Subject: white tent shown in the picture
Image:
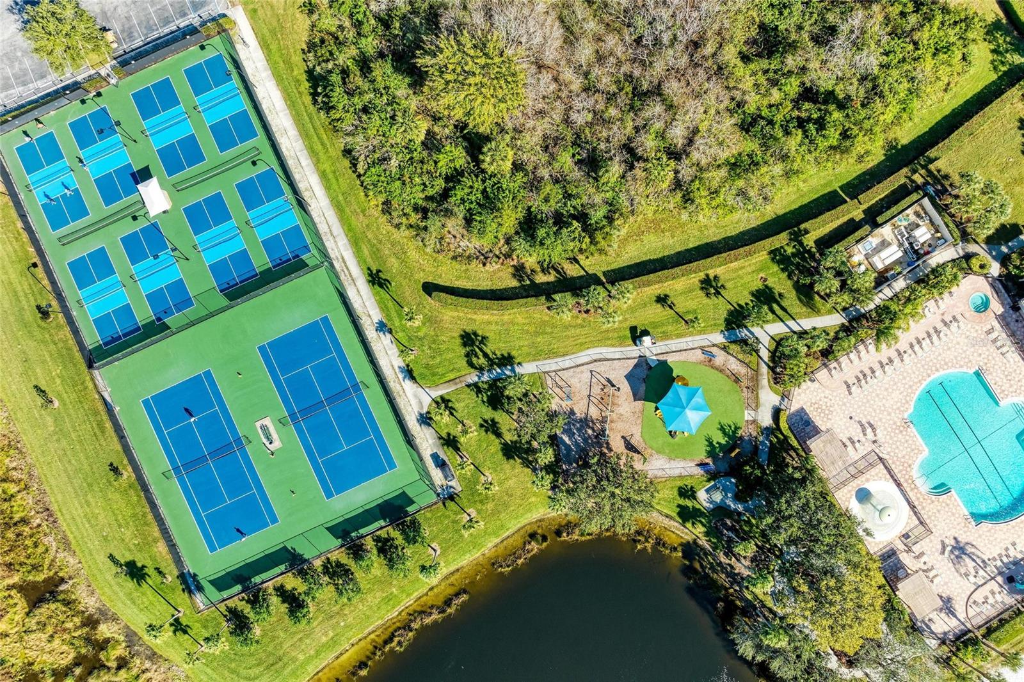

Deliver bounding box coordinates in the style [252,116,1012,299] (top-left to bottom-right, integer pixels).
[137,177,174,219]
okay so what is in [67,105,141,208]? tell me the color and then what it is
blue sports court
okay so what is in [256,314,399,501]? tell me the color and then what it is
blue tennis court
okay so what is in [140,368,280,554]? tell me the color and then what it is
blue tennis court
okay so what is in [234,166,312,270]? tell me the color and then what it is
blue sports court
